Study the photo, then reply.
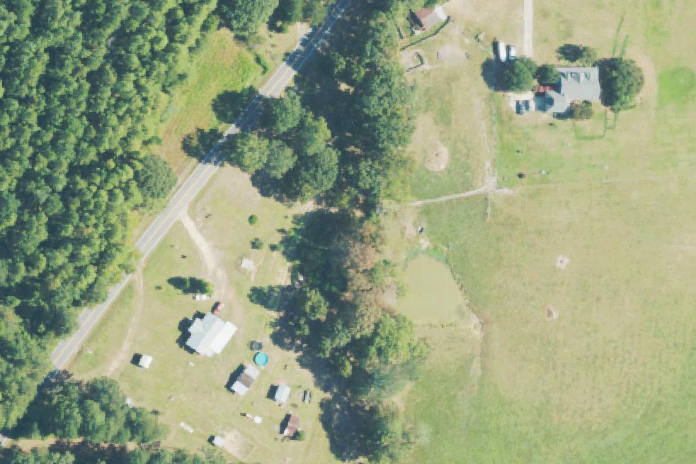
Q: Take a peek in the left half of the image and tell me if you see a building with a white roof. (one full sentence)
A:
Yes, there is a building with a white roof in the left half of the image.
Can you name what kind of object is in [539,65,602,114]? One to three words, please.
house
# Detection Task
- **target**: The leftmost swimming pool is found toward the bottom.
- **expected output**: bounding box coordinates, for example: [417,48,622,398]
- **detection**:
[254,352,269,367]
